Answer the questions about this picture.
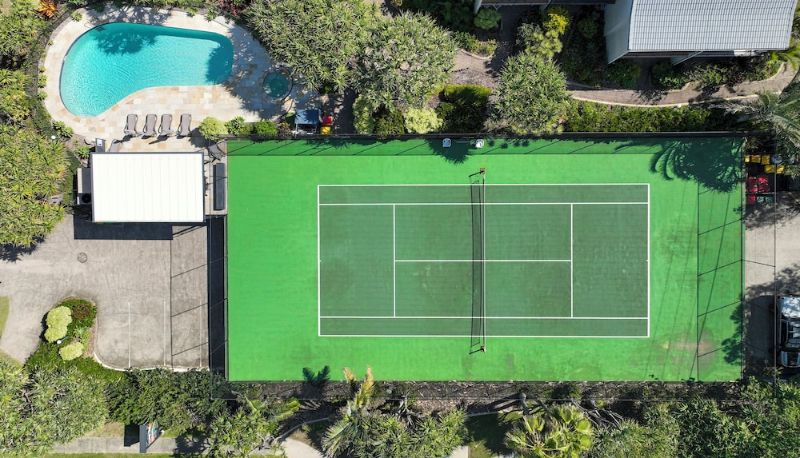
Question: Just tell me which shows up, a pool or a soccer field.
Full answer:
This aerial view contains a pool.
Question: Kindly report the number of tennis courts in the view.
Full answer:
The picture shows 1 tennis court.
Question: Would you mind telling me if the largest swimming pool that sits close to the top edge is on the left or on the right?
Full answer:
The largest swimming pool that sits close to the top edge sits on the left side.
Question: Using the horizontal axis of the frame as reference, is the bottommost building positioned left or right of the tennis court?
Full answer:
From the viewer's perspective, the bottommost building falls to the left of the tennis court.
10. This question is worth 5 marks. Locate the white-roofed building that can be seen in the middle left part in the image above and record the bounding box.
[91,152,216,223]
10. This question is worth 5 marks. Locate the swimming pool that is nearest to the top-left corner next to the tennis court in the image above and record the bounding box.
[55,18,238,121]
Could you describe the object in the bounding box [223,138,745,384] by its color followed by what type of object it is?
green tennis court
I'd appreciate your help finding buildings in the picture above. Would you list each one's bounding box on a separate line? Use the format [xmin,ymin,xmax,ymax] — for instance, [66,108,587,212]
[91,152,216,223]
[606,0,797,65]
